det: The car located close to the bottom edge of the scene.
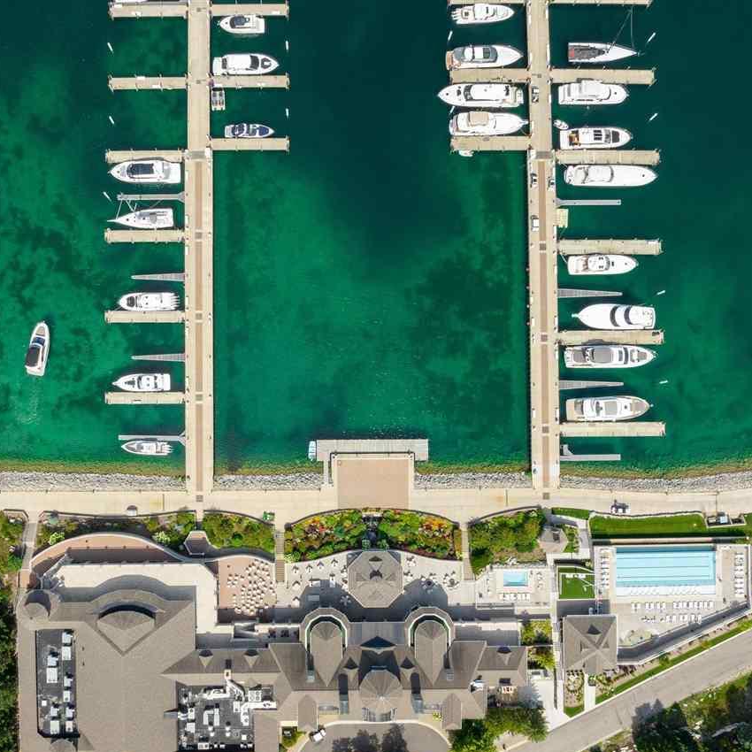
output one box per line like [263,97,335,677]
[307,725,327,743]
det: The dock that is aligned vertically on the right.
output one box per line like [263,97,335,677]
[447,0,665,487]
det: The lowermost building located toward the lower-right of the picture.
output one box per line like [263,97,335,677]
[558,613,618,676]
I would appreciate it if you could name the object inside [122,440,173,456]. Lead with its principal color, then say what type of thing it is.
white boat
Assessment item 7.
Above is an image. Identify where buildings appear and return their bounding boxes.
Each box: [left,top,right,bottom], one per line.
[347,550,404,607]
[558,613,618,676]
[539,525,567,553]
[17,546,528,752]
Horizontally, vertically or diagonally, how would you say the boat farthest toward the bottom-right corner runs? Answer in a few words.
horizontally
